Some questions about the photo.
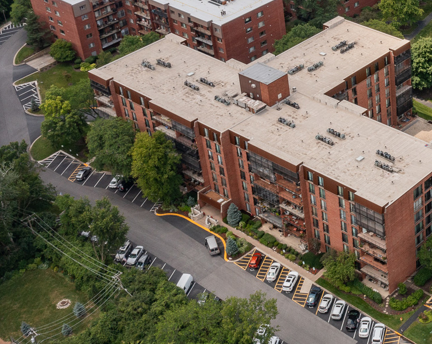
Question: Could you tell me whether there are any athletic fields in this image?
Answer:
No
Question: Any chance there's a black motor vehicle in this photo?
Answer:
Yes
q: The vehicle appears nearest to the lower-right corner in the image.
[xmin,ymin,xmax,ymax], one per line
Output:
[371,324,386,344]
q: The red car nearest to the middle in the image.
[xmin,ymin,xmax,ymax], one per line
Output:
[247,252,262,271]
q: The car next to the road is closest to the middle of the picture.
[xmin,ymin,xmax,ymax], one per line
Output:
[205,237,219,256]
